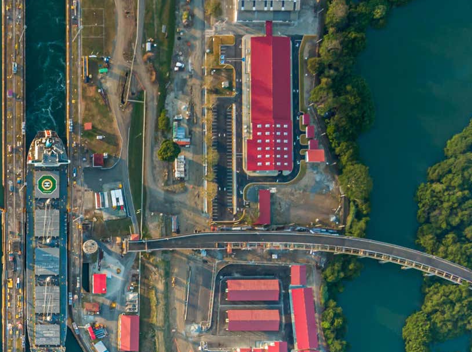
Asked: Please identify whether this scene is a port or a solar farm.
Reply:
port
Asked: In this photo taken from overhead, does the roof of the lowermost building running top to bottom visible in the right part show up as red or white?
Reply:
red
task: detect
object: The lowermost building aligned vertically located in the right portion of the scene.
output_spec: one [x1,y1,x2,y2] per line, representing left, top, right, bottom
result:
[288,288,319,350]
